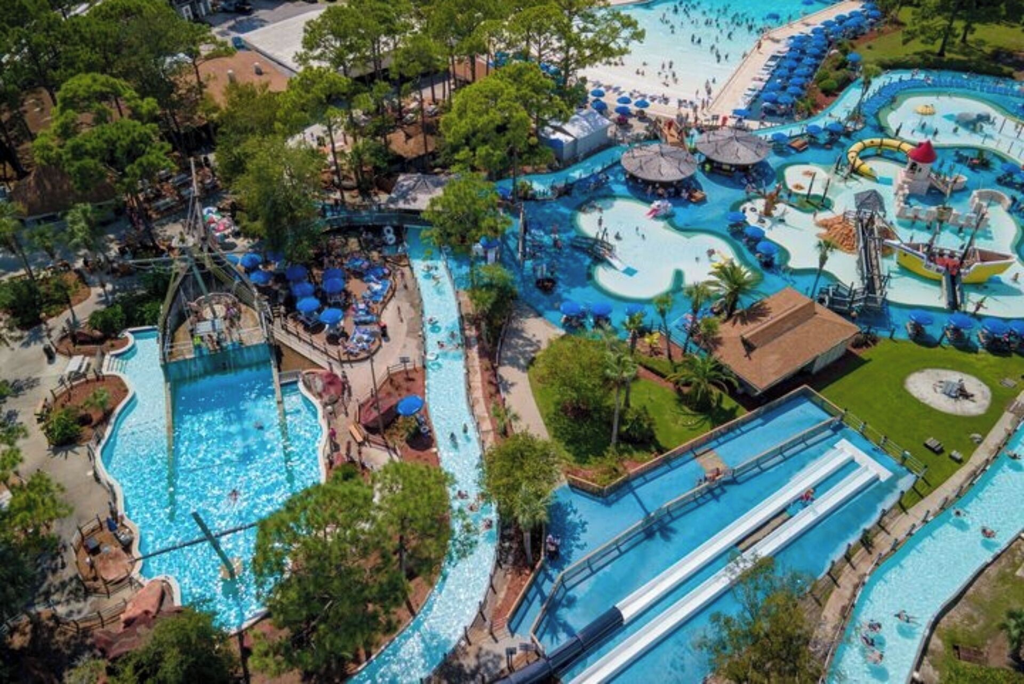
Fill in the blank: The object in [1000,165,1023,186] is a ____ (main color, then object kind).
blue umbrella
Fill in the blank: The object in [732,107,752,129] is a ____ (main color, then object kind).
blue umbrella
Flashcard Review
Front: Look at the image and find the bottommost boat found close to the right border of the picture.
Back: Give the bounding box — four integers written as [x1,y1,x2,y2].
[894,211,1024,309]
